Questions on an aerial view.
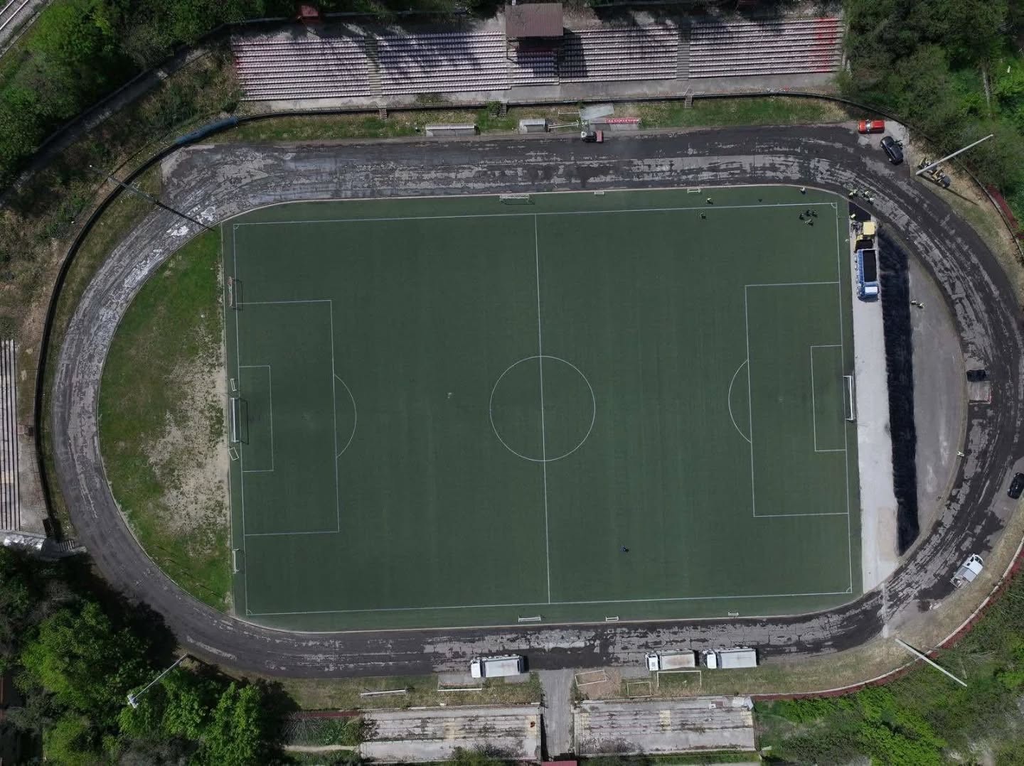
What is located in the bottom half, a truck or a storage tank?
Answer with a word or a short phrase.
truck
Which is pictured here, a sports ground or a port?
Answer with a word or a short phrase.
sports ground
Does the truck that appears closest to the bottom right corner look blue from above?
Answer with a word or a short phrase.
No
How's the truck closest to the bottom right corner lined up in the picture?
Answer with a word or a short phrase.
at an angle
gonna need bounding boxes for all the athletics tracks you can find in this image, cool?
[52,119,1024,678]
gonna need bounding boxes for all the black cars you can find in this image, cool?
[882,138,902,165]
[1007,472,1024,499]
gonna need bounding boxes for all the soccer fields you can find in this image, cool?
[221,186,863,632]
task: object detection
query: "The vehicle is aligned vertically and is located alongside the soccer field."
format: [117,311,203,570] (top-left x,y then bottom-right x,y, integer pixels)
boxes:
[854,248,879,298]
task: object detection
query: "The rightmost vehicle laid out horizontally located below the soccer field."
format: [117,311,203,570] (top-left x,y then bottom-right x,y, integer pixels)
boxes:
[699,644,758,668]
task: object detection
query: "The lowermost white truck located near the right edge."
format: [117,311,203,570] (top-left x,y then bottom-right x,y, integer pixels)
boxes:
[947,553,983,591]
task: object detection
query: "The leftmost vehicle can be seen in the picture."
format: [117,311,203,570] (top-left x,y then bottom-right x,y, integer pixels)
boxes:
[470,653,525,678]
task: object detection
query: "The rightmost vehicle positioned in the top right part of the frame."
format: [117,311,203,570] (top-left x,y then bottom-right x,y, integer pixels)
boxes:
[919,163,951,192]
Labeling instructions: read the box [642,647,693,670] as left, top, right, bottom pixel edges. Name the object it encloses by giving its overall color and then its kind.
white truck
